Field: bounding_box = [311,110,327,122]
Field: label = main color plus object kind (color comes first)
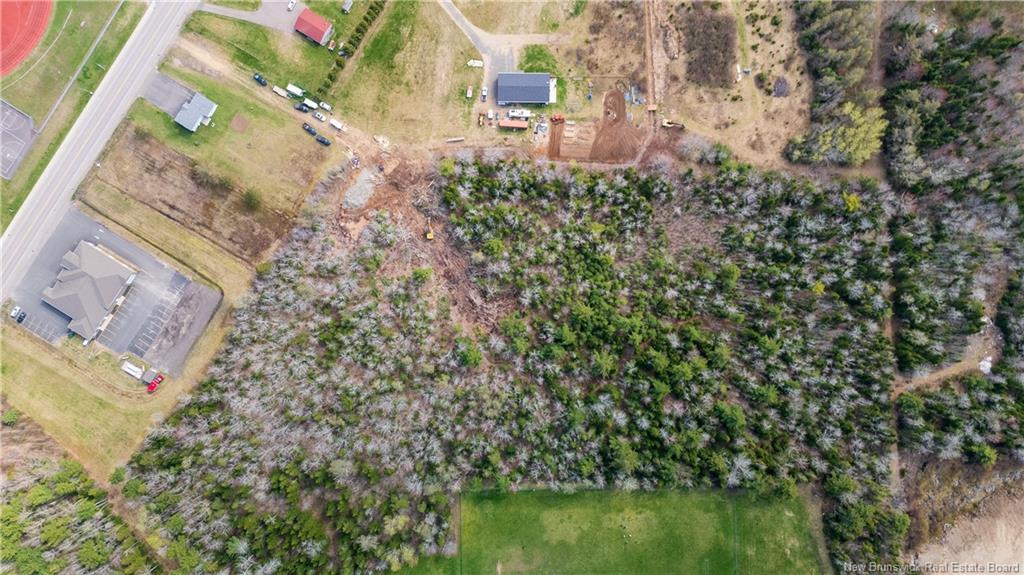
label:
white vehicle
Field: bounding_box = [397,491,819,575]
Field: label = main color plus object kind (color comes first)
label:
green soccer field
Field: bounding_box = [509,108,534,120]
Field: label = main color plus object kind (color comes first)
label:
white vehicle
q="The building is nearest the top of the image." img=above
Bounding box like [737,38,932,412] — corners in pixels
[294,8,333,45]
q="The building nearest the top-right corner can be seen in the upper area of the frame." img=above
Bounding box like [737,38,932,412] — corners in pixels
[497,72,550,103]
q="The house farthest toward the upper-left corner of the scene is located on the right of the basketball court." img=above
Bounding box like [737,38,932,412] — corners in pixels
[175,90,220,132]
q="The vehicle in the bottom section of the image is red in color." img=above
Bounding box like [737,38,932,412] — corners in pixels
[148,374,164,391]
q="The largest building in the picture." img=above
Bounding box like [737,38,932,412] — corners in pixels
[41,239,140,340]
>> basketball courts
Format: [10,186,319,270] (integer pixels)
[0,100,35,179]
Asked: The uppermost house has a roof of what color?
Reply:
red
